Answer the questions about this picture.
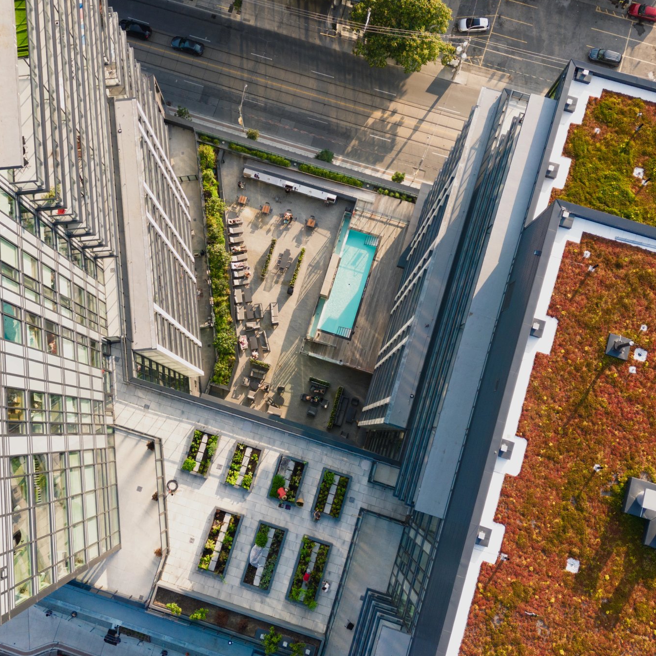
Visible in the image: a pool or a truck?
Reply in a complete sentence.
It is a pool that can be seen here.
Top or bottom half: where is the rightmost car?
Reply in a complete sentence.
Seen from above, the rightmost car lies in the top half of the view.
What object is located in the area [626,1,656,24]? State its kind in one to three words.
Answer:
car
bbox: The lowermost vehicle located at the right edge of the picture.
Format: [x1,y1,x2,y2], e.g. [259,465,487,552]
[586,46,625,69]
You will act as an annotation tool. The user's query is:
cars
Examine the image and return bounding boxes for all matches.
[169,35,206,57]
[586,46,625,69]
[456,15,493,33]
[626,1,656,24]
[119,18,154,40]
